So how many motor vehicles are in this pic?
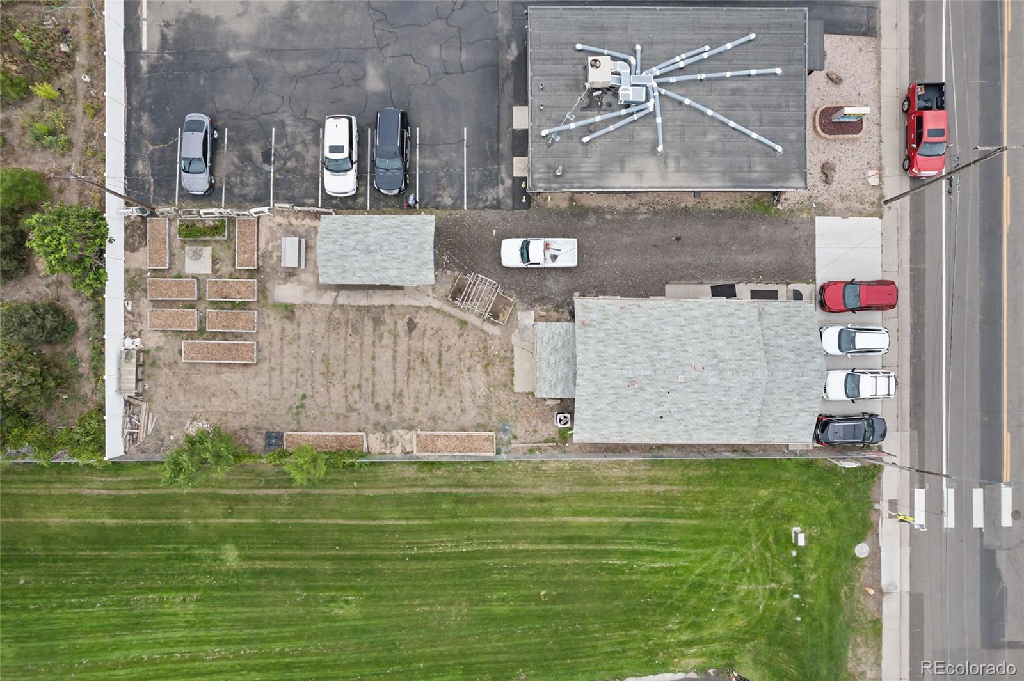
9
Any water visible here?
No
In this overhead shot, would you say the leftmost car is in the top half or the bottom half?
top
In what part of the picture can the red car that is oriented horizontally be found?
right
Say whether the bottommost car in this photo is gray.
Yes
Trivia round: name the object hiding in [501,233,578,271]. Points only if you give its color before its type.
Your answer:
white truck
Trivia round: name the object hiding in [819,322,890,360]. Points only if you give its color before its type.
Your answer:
white car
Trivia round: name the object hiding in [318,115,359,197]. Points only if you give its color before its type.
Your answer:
white car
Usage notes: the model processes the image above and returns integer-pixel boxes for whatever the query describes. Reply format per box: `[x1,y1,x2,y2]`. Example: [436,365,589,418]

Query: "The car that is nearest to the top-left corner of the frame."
[174,113,216,196]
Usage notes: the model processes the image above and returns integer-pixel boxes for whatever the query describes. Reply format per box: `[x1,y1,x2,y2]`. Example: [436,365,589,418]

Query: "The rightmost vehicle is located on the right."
[898,82,955,179]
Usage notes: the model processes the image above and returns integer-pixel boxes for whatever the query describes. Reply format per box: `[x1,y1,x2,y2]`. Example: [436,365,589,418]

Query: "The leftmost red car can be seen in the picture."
[818,276,898,316]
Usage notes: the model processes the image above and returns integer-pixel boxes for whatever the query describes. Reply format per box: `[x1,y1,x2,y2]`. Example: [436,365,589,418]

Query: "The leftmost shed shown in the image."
[315,211,436,287]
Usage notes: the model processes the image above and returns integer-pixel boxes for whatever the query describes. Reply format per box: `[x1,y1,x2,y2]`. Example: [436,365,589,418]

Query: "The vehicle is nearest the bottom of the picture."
[814,411,889,451]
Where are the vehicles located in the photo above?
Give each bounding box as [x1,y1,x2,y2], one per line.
[369,105,409,196]
[318,115,359,197]
[818,276,898,316]
[822,366,900,405]
[501,233,578,271]
[814,411,889,451]
[898,82,955,179]
[819,322,890,360]
[174,113,216,196]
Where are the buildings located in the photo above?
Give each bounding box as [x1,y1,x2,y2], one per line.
[315,211,436,287]
[523,7,825,194]
[567,295,824,445]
